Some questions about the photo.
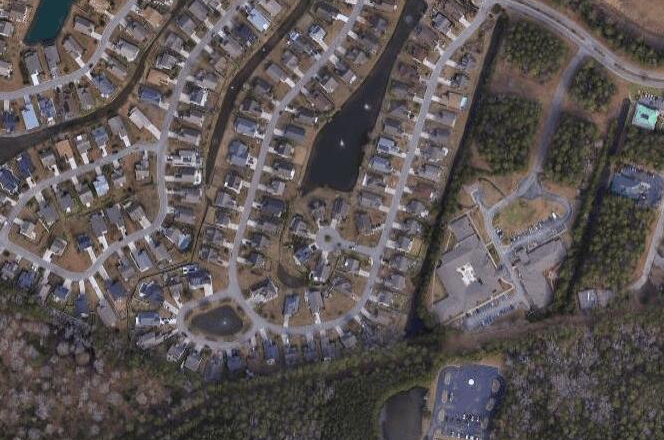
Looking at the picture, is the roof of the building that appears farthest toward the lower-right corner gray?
Yes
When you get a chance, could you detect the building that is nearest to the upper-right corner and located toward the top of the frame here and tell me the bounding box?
[632,101,659,131]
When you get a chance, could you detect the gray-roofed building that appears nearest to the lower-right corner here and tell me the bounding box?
[512,236,566,308]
